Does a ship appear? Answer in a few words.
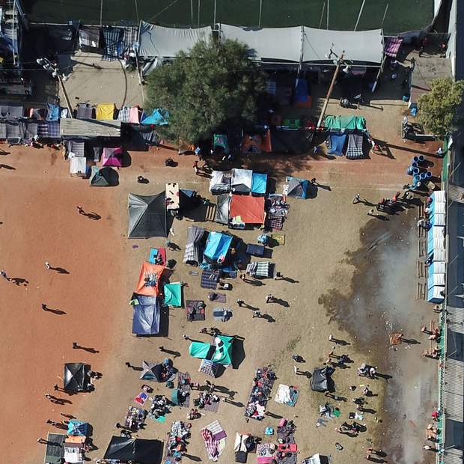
No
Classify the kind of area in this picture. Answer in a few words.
sports ground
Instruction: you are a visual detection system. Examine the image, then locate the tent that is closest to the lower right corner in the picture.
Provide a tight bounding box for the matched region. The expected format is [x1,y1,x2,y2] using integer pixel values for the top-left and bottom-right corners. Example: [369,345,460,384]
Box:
[311,367,332,393]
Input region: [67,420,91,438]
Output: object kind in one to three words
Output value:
tent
